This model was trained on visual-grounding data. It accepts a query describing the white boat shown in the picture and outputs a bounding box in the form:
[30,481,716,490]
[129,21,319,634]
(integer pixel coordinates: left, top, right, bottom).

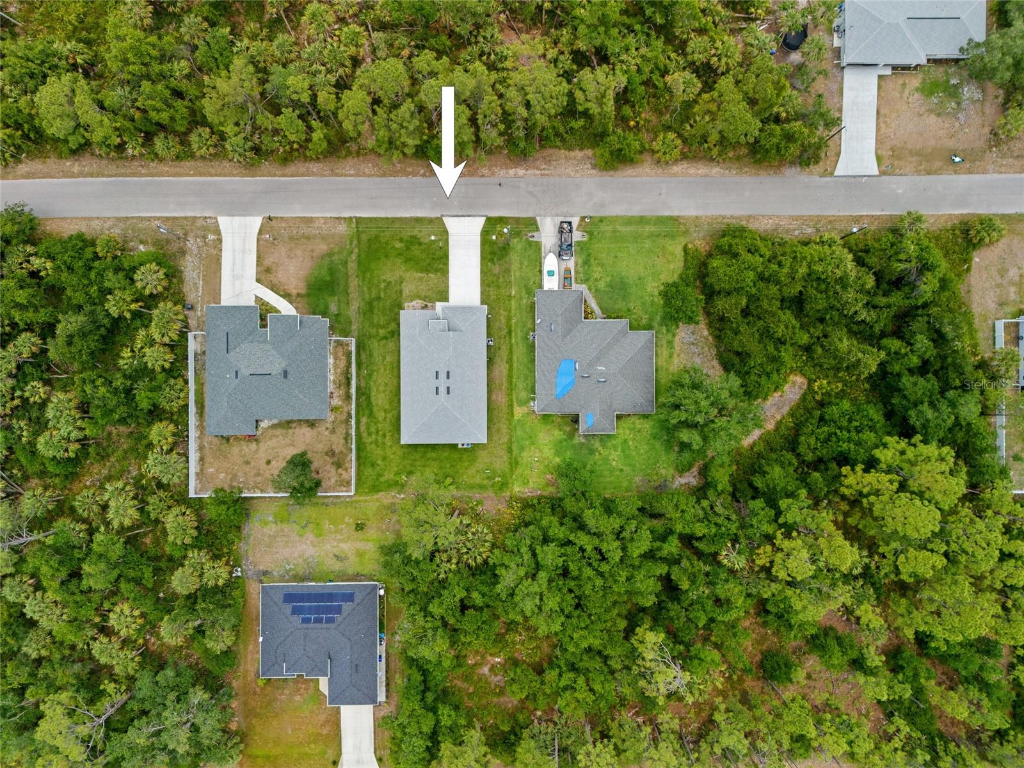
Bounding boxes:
[543,251,558,289]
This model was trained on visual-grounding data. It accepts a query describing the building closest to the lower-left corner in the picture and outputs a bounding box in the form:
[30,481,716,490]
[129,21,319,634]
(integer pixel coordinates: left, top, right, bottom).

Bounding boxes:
[260,581,379,707]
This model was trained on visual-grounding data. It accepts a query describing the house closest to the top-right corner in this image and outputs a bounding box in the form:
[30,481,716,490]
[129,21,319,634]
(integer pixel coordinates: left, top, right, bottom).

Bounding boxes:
[839,0,986,70]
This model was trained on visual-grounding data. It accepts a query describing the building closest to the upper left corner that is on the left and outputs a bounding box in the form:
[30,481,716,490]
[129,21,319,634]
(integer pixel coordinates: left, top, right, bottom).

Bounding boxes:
[204,305,330,436]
